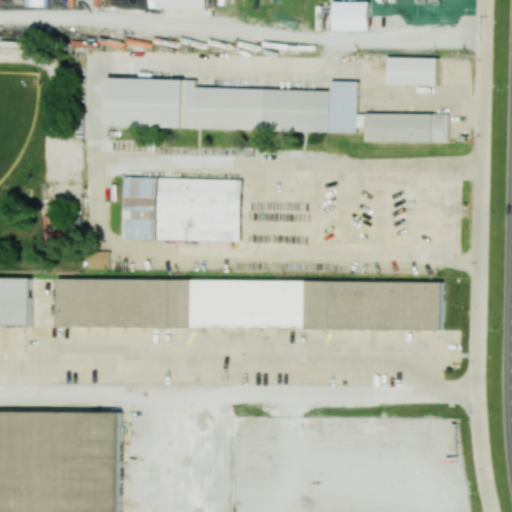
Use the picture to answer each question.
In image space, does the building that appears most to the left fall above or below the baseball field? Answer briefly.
below it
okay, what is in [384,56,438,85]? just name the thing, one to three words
shed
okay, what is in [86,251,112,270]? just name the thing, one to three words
shed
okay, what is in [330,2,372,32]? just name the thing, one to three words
building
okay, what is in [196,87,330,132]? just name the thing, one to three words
building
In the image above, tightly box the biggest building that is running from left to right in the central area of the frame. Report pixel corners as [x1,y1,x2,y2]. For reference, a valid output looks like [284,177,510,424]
[56,280,444,334]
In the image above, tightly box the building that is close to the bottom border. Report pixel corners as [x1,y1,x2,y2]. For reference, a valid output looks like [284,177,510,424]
[0,412,122,512]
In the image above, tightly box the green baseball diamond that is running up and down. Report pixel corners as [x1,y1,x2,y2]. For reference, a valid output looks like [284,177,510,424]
[0,71,40,183]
